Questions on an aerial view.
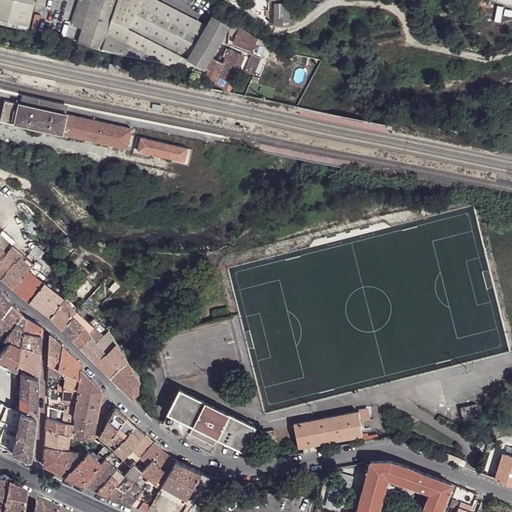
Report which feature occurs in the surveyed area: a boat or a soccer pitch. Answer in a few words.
soccer pitch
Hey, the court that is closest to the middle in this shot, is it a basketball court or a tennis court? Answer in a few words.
basketball court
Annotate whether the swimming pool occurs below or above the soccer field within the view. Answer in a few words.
above it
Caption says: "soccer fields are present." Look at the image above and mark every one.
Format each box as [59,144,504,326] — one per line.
[230,206,508,412]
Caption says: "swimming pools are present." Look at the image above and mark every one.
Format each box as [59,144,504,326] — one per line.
[290,62,310,88]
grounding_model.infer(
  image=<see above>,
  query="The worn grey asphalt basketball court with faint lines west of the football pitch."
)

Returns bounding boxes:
[164,321,244,379]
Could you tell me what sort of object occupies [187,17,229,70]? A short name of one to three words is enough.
shed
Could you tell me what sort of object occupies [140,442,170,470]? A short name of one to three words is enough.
house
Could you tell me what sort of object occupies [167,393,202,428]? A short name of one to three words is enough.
building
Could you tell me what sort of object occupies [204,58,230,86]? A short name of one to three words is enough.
house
